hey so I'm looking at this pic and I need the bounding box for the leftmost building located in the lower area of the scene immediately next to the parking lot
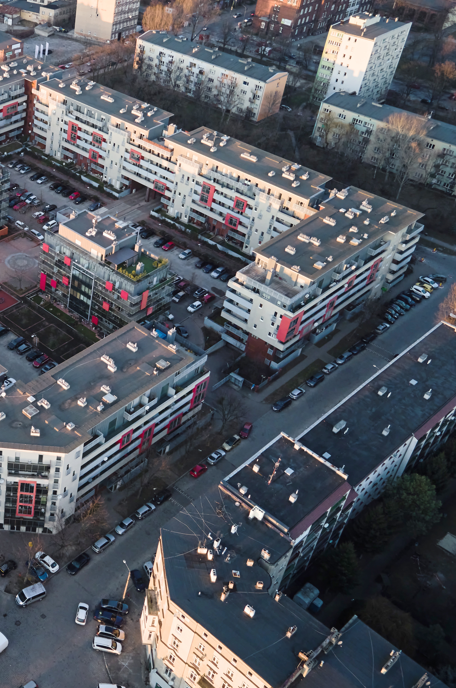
[0,322,196,535]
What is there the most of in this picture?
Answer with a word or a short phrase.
buildings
